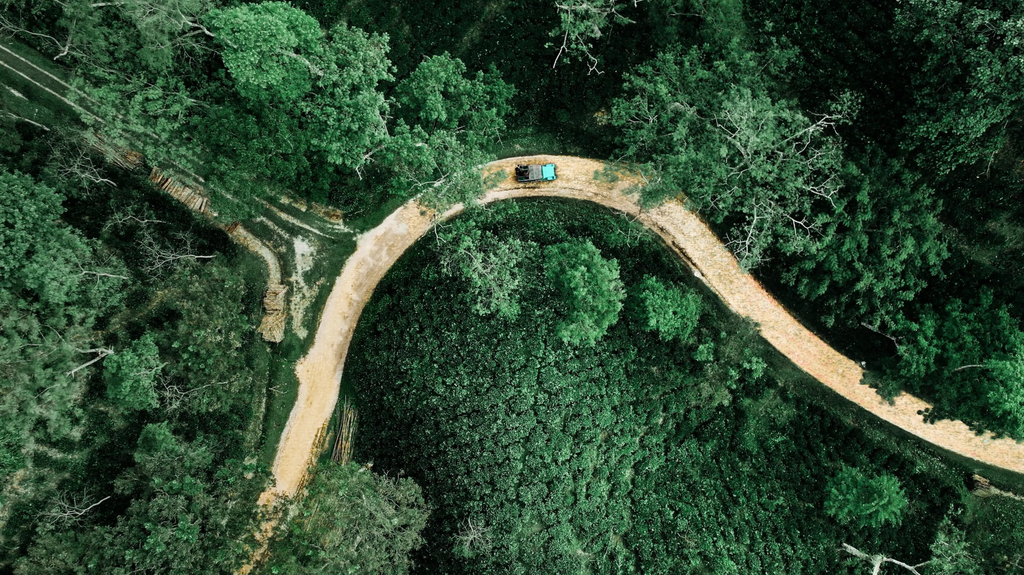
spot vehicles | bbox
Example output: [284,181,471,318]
[515,161,558,181]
